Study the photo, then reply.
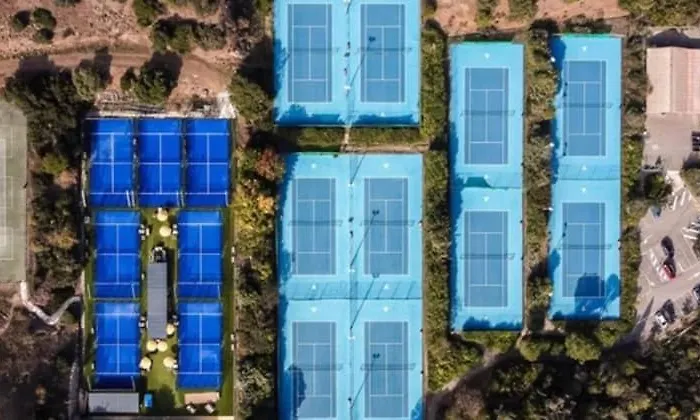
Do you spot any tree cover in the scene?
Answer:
Yes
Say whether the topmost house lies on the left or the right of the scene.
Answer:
right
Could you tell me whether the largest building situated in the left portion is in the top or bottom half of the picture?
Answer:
bottom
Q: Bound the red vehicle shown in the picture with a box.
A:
[663,261,677,279]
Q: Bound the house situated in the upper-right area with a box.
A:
[643,46,700,116]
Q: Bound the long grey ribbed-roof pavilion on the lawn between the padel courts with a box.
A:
[147,263,170,339]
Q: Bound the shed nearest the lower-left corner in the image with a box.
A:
[88,390,143,412]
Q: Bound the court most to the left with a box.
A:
[0,103,27,283]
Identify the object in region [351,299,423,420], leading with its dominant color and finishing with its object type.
blue tennis court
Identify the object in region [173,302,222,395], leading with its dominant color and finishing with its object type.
blue sports court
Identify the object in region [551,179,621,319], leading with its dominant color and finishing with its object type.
blue tennis court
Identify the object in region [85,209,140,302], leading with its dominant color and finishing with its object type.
blue sports court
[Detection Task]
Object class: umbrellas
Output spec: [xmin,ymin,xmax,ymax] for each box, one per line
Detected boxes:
[158,340,169,351]
[160,225,172,237]
[157,210,168,221]
[141,356,152,367]
[167,323,176,334]
[147,340,158,352]
[164,356,176,367]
